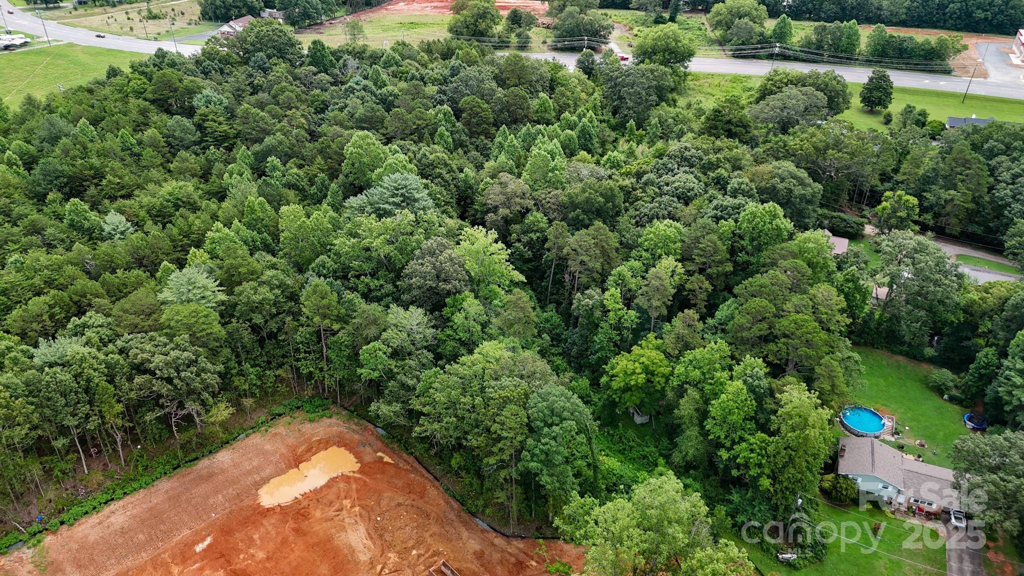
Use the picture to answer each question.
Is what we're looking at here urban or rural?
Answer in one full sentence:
This place is rural.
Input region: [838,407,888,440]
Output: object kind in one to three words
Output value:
swimming pool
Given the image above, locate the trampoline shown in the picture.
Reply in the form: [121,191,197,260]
[962,413,990,432]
